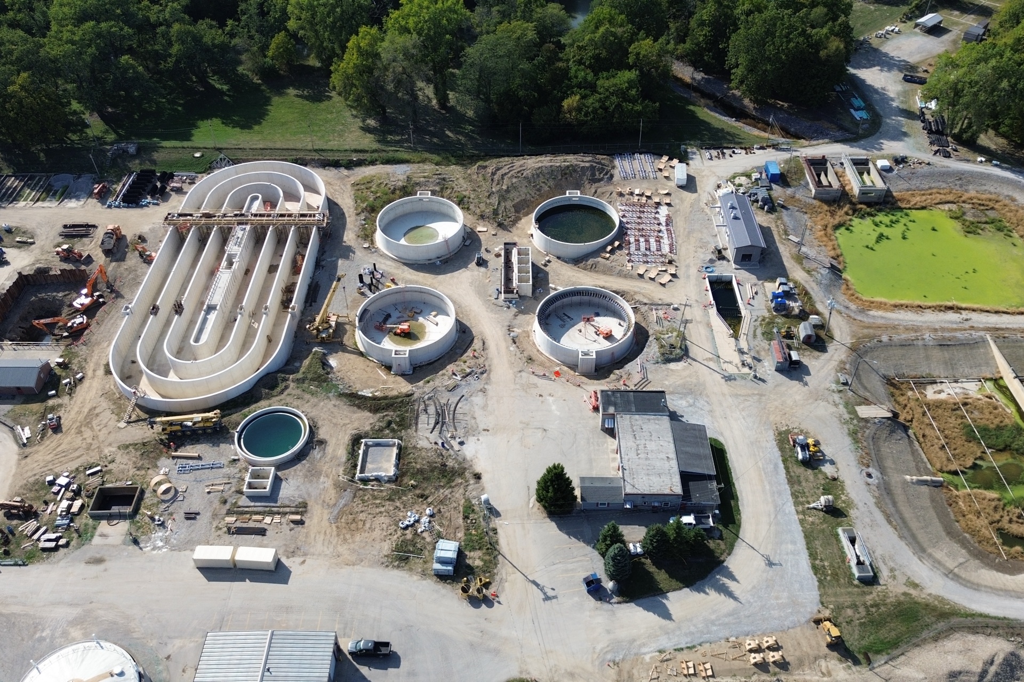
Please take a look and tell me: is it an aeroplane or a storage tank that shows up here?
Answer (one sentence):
Visible in the photo is a storage tank.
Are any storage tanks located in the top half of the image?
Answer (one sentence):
Yes, the scene does show a storage tank in the top half of the image.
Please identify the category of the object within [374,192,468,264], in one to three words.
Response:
storage tank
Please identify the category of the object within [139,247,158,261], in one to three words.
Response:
work vehicle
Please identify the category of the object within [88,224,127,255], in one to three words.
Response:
truck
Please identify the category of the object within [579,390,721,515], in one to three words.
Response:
building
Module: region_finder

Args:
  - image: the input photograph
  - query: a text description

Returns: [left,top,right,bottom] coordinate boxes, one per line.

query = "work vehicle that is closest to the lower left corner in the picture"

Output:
[0,496,51,521]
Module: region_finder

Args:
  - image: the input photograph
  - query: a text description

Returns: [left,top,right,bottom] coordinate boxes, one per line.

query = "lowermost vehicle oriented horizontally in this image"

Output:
[347,643,391,662]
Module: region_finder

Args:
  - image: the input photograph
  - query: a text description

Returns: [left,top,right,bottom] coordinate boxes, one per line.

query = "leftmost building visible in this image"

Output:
[0,353,56,402]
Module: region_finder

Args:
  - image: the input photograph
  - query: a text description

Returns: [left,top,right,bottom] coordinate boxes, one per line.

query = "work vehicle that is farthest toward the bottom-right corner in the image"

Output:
[808,613,848,651]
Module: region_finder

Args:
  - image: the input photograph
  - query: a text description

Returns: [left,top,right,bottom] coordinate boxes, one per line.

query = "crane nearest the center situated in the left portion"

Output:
[310,269,349,342]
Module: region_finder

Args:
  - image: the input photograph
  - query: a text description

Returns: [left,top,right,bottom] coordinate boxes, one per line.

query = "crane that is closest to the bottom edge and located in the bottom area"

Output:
[136,411,222,439]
